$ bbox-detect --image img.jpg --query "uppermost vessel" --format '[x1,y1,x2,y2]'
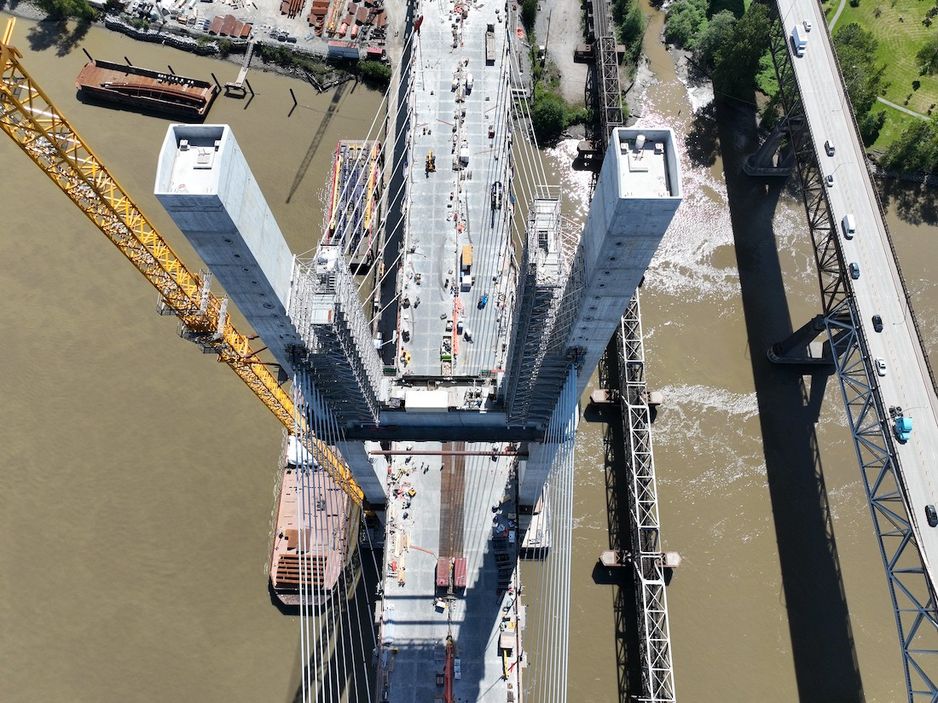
[77,57,218,119]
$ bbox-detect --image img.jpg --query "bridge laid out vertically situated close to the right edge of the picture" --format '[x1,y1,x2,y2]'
[716,0,938,703]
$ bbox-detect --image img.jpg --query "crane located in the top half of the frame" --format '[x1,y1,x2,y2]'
[0,12,358,506]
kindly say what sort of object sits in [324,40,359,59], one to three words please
shed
